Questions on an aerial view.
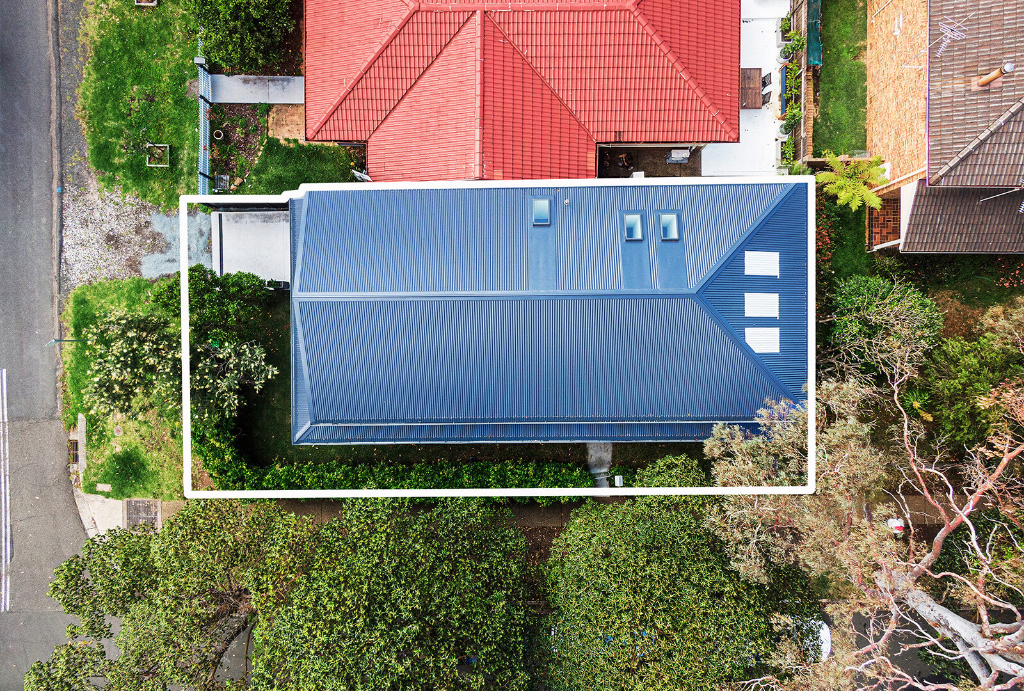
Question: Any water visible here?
No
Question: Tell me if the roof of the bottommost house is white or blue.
blue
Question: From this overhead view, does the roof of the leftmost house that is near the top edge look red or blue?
red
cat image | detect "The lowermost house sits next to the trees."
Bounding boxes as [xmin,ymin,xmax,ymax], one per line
[288,184,812,446]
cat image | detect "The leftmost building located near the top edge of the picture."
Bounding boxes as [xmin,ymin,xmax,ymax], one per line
[301,0,744,188]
